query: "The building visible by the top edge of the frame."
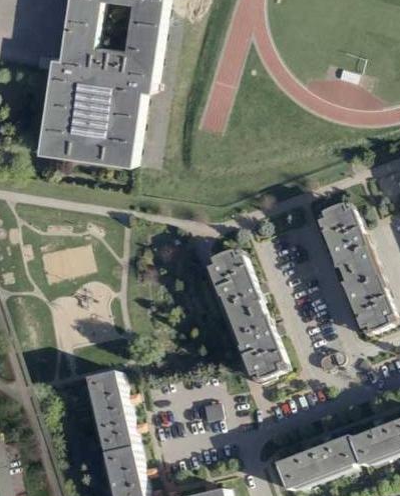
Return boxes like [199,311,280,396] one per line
[37,0,173,174]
